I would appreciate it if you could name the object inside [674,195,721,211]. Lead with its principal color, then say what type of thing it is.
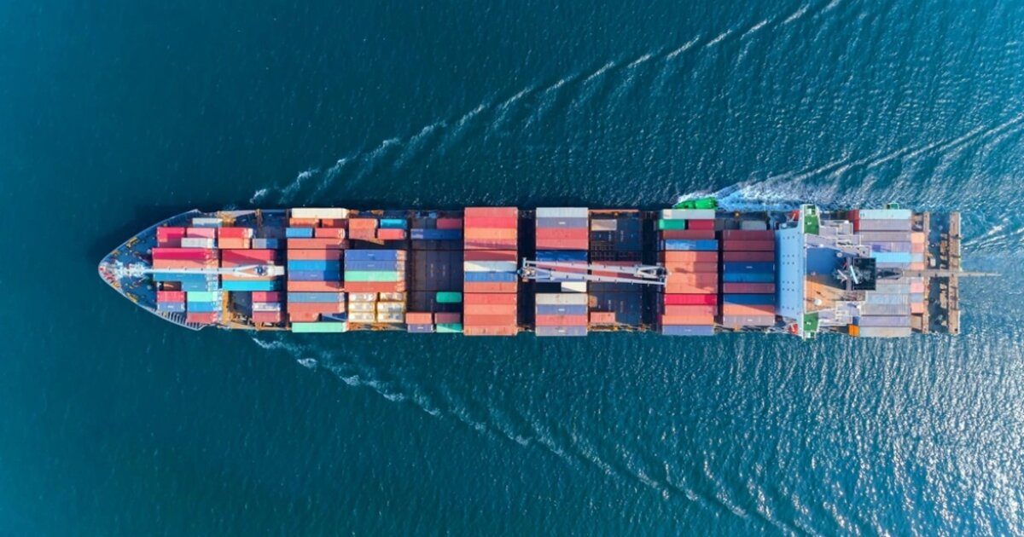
green boat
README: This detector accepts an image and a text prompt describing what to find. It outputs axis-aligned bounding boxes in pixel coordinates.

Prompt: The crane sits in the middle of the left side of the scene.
[145,262,288,278]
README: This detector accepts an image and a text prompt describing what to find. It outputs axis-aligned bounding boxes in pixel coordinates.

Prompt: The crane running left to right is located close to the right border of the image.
[875,266,999,281]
